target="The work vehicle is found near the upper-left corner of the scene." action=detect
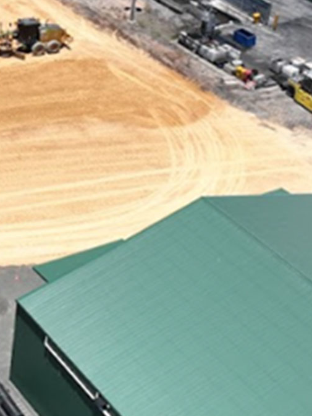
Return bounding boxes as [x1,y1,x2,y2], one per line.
[0,10,70,61]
